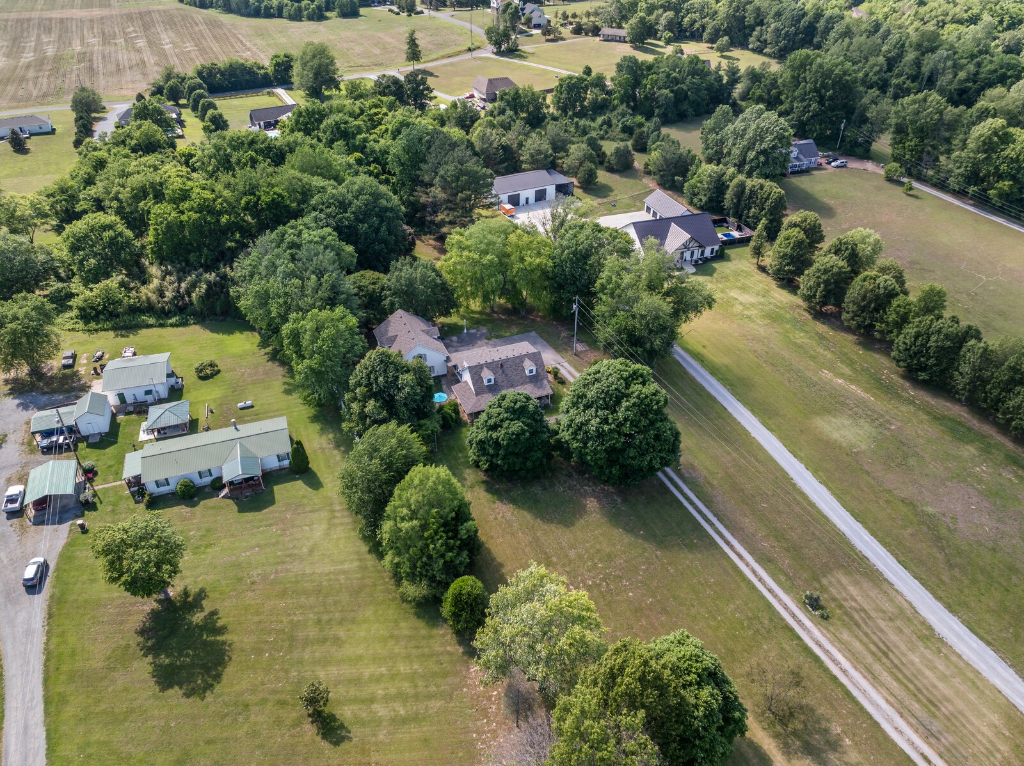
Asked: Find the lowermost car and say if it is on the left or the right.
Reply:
left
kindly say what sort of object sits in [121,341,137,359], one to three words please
vehicle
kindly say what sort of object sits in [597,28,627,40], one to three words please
house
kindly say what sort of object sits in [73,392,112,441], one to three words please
shed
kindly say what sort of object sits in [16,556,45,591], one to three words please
car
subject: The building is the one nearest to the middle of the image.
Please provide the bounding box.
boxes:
[444,342,557,426]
